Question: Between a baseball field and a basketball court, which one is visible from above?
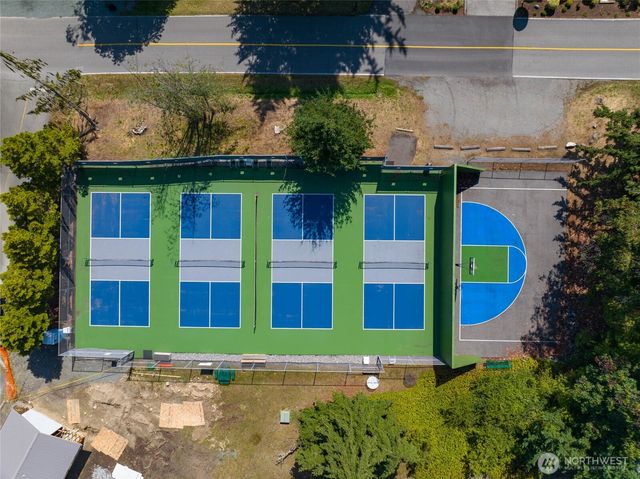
basketball court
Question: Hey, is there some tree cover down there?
Yes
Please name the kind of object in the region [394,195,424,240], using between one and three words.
sports court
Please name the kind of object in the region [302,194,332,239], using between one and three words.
sports court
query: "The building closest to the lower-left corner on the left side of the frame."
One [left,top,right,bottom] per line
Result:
[0,408,82,479]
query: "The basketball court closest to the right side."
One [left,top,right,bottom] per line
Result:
[456,171,569,358]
